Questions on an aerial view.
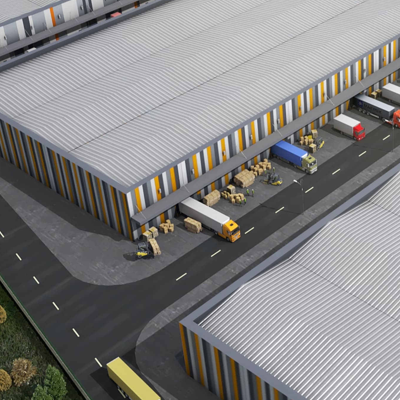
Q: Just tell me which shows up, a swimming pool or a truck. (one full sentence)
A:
There is a truck in the scene.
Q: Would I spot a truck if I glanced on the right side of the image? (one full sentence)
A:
Yes, a truck appears on the right side of the image.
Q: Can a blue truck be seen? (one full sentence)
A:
Yes, you can see a blue truck in this photo.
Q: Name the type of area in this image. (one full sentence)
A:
The area seen from above is an industrial area.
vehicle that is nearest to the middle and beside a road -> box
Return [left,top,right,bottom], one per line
[181,195,242,241]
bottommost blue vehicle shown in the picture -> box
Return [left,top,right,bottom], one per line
[273,139,320,174]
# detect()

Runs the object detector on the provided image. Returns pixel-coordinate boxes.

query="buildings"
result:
[179,163,400,400]
[0,0,400,242]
